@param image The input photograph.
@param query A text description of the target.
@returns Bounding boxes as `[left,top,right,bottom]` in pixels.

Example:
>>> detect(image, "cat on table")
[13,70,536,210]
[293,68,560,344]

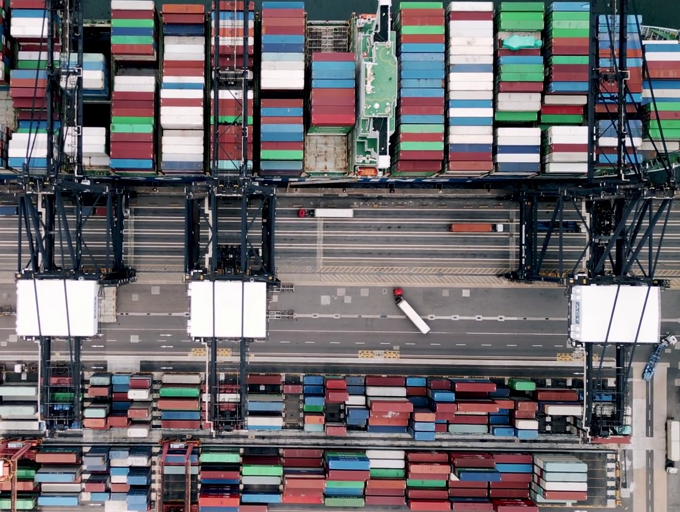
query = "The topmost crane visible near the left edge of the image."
[15,0,138,446]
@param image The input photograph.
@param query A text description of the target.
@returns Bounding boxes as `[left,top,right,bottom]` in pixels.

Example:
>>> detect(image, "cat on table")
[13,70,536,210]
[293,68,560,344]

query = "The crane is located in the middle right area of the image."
[497,0,680,452]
